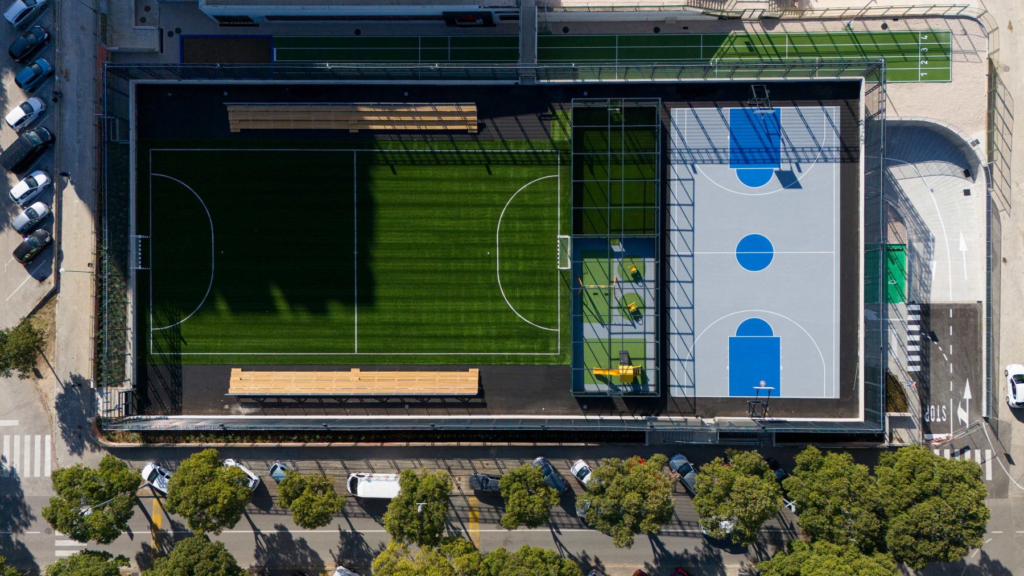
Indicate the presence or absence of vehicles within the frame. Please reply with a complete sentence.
Yes, a vehicle is visible in the scene.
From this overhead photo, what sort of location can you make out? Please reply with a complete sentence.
The picture captures a sports ground.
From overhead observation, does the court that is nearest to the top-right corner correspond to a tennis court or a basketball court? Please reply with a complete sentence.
The court that is nearest to the top-right corner is a basketball court.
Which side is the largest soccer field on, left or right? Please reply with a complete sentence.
The largest soccer field sits on the left side.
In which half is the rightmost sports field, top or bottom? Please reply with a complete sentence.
Seen from above, the rightmost sports field lies in the top half of the view.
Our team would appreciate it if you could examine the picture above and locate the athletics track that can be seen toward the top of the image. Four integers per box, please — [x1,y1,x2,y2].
[274,30,952,77]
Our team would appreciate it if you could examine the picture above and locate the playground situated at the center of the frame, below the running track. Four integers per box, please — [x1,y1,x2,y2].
[570,238,650,388]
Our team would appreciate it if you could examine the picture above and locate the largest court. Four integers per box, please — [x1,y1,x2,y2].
[671,106,840,398]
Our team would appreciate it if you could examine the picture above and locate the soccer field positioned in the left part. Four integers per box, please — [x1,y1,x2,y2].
[146,107,568,365]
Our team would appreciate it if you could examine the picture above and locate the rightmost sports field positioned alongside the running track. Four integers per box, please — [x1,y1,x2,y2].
[570,111,650,246]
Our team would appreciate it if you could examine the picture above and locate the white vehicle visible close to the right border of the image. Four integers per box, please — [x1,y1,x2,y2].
[1002,364,1024,408]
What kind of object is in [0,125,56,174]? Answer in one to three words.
van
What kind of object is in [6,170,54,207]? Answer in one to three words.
car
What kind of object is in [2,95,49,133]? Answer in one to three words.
car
